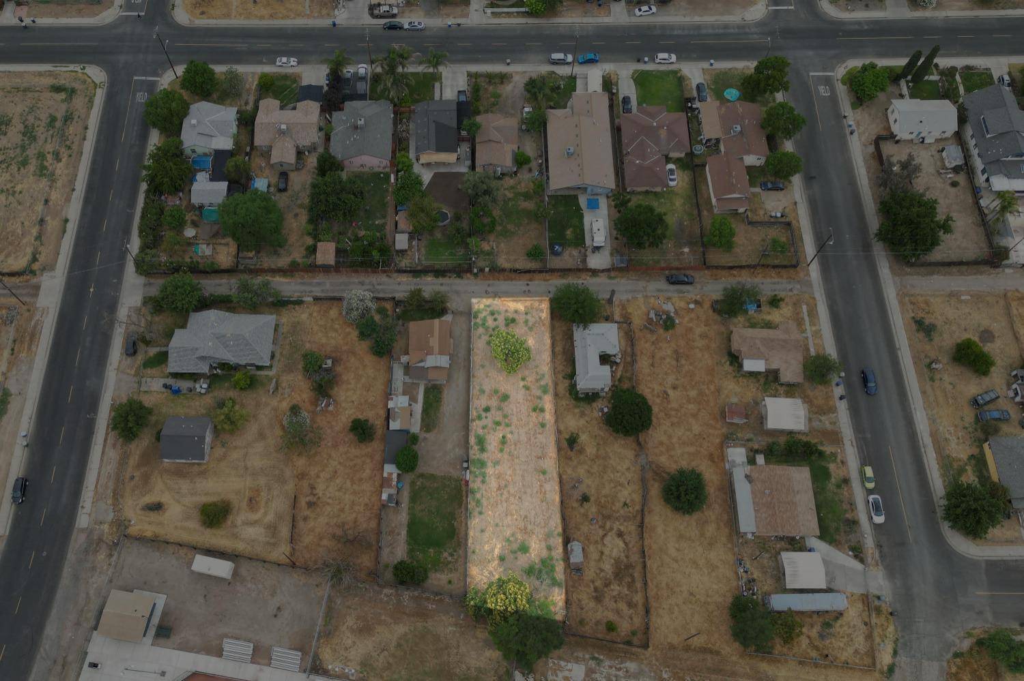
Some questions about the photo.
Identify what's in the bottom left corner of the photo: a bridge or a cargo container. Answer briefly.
cargo container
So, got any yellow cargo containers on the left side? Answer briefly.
No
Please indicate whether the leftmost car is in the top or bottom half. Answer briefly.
bottom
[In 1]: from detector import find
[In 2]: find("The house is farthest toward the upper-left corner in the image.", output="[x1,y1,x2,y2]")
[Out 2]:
[183,101,239,157]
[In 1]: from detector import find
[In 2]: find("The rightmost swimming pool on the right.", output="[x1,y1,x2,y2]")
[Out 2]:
[723,88,740,102]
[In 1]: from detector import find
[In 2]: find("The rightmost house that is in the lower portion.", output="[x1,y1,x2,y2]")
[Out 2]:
[982,434,1024,512]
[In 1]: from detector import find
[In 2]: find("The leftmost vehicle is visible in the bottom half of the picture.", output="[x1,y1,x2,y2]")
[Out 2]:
[8,473,31,505]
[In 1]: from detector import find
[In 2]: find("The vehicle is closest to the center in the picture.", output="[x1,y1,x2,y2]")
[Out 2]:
[591,219,606,255]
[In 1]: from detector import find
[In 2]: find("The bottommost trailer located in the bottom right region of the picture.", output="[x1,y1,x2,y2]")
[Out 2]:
[766,593,847,612]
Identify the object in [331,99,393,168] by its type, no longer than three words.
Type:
building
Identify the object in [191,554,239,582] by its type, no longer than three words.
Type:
shipping container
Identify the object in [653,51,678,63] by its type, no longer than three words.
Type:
vehicle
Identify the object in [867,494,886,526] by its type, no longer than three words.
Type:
car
